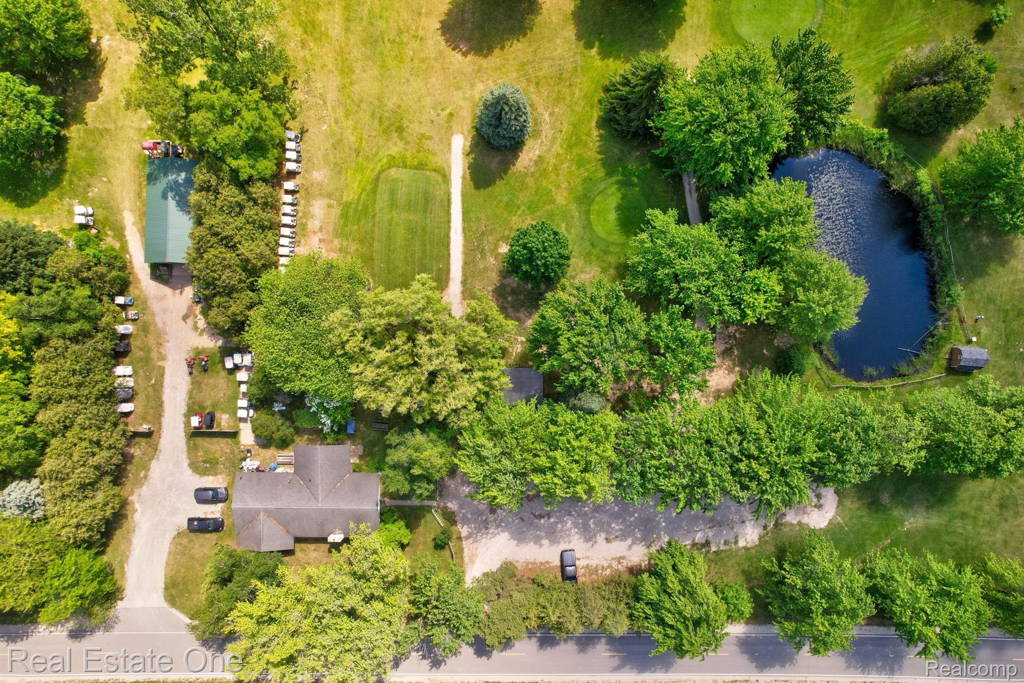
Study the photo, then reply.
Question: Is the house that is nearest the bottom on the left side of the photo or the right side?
left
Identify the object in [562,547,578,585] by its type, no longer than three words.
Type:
vehicle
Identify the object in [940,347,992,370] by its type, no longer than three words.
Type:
shed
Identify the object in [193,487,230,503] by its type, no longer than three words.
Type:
car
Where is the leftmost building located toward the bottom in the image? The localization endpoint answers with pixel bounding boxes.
[231,445,392,551]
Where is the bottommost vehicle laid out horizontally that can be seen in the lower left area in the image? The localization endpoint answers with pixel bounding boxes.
[187,516,225,533]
